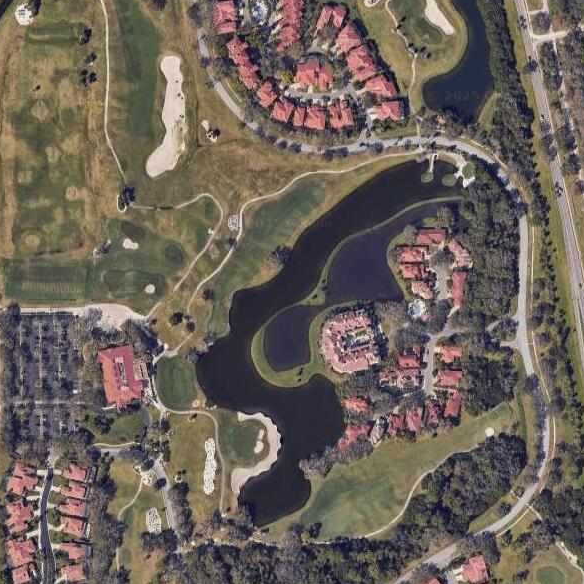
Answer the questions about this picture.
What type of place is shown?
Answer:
golf course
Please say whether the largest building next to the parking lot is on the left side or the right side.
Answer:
left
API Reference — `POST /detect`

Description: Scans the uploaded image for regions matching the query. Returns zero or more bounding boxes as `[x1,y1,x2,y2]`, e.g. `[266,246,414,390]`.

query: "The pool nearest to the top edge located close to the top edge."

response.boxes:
[252,0,268,24]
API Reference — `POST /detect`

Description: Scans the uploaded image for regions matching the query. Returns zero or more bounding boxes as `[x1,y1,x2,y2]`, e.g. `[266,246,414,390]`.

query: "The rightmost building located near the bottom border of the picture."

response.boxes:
[463,555,487,583]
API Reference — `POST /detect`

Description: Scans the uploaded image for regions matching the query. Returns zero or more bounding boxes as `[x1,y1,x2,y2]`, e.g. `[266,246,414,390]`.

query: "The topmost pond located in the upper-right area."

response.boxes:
[424,0,492,123]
